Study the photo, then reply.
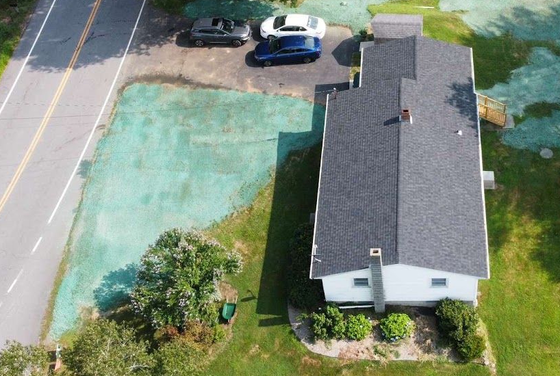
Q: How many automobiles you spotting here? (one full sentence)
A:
I count 3 automobiles.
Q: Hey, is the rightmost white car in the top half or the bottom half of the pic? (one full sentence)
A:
The rightmost white car sits in the top half of the picture.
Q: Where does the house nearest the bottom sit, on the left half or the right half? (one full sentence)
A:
The house nearest the bottom is on the right side of the image.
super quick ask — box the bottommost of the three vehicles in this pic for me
[252,35,321,67]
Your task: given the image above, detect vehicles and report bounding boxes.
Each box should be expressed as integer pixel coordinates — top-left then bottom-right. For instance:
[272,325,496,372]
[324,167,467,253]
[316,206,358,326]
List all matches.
[252,35,321,67]
[257,11,326,40]
[184,15,252,49]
